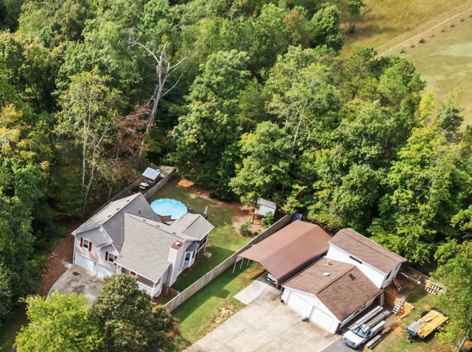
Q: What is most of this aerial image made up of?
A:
trees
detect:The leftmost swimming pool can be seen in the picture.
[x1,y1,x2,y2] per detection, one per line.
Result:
[150,195,189,225]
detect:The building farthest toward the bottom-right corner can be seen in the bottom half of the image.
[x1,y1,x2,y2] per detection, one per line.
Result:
[283,226,412,333]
